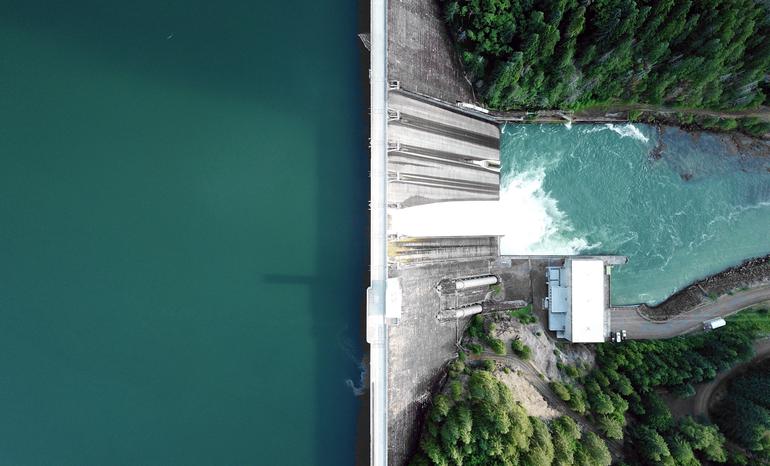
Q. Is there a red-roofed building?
No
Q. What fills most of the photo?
water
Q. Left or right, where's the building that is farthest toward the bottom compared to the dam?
on its right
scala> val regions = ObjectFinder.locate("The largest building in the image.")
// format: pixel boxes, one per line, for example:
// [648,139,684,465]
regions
[544,259,613,343]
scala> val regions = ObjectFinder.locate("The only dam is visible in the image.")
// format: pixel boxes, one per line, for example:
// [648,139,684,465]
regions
[358,0,528,466]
